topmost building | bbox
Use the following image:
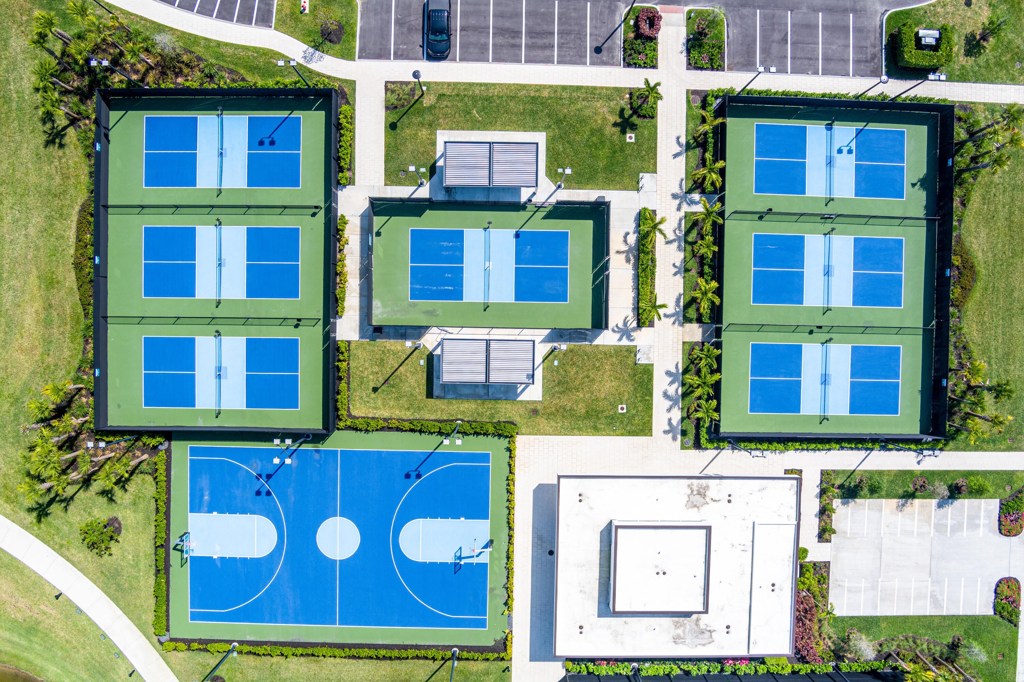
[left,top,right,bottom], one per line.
[444,141,538,193]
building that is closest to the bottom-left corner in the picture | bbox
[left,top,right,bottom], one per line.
[440,338,535,385]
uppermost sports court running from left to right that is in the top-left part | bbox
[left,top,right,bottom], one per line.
[109,96,338,209]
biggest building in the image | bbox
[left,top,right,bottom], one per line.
[553,473,802,658]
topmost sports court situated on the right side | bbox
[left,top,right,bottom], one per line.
[718,104,939,221]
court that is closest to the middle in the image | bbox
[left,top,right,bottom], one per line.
[373,202,606,328]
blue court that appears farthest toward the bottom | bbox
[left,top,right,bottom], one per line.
[170,431,509,646]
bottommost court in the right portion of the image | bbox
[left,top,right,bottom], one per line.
[713,325,934,434]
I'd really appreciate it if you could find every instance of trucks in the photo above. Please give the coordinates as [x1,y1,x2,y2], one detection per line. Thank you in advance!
[425,0,453,60]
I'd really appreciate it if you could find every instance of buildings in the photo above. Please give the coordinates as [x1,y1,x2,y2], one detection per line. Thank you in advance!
[553,473,802,658]
[440,338,535,385]
[444,141,538,193]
